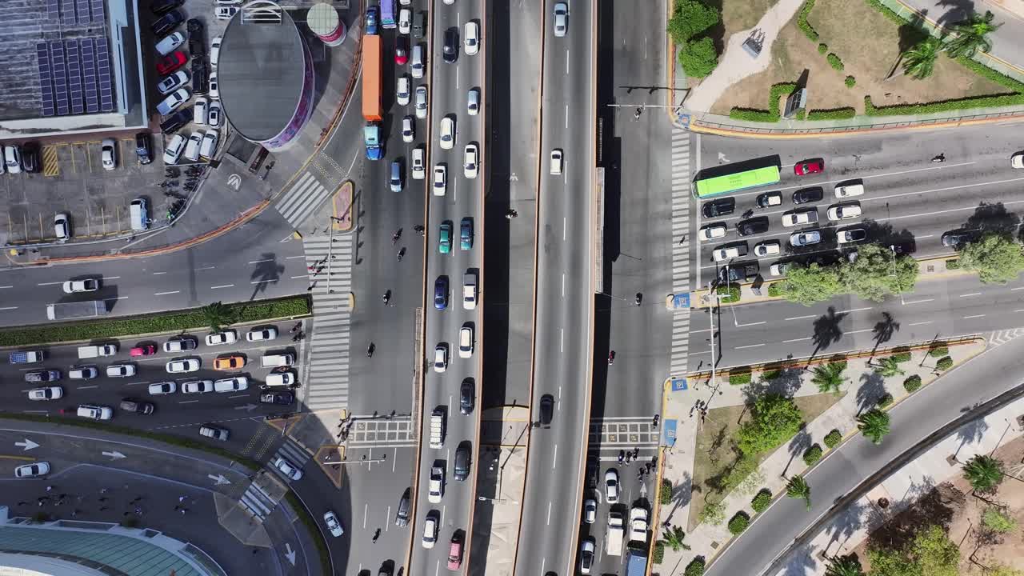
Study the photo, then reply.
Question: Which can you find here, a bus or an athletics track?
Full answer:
I can see a bus in this picture.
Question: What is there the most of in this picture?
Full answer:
The largest share of the image is taken up by paved ground.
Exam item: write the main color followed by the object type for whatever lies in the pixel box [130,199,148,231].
white vehicle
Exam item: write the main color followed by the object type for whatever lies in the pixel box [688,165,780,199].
green bus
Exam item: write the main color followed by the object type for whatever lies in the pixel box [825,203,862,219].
white car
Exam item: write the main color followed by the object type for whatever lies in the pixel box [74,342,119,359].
white vehicle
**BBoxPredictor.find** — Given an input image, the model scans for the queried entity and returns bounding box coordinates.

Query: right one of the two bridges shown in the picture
[512,0,597,576]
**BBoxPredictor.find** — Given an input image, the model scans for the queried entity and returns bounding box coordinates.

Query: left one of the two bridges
[406,0,485,576]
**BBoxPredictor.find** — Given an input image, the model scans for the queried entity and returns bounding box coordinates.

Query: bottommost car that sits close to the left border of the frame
[16,461,53,476]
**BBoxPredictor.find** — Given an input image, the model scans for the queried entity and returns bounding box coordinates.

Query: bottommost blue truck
[625,547,646,576]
